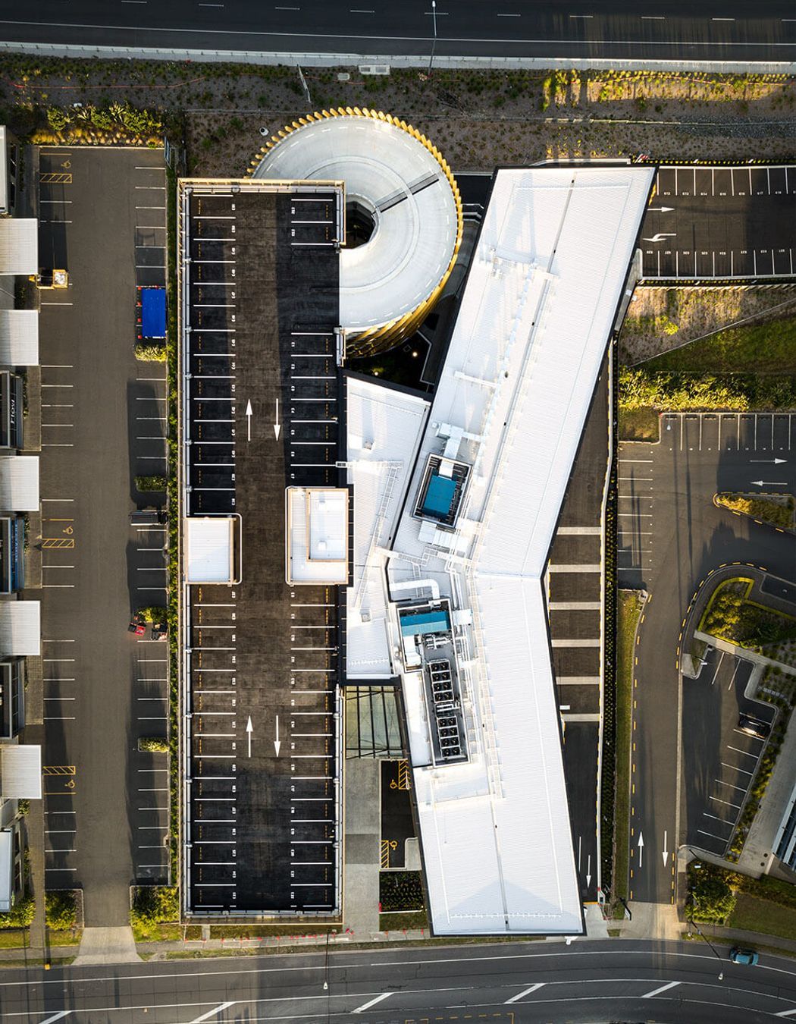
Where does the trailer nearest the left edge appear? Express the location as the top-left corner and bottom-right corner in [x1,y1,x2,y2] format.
[29,269,73,290]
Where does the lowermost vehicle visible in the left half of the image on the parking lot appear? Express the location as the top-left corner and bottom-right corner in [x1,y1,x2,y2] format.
[129,511,170,526]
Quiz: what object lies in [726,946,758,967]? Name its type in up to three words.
car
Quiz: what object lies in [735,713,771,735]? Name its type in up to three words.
car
